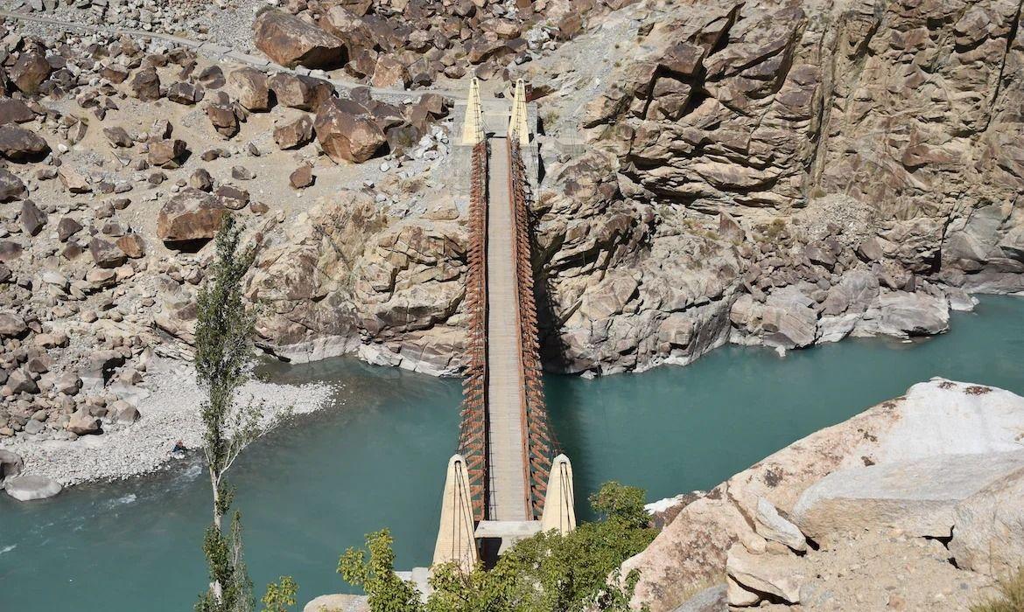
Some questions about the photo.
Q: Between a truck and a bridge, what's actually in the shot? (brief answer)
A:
bridge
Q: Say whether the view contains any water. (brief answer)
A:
Yes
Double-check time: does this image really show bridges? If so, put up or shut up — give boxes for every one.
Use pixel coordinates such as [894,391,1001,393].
[426,75,578,608]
